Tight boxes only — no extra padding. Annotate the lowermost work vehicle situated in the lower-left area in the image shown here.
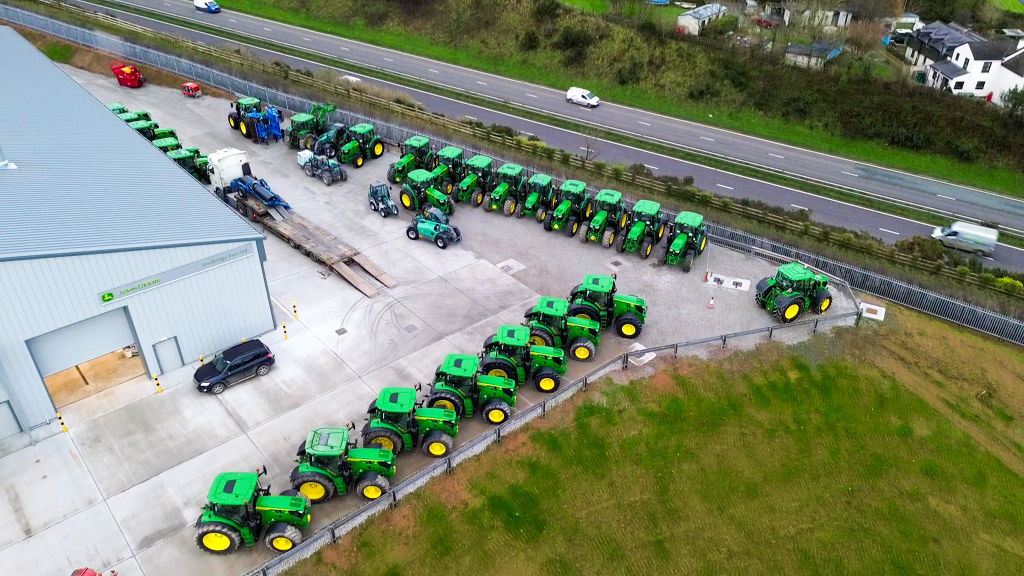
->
[70,551,112,576]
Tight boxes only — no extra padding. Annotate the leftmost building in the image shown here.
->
[0,13,277,440]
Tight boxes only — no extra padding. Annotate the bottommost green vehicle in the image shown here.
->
[189,468,316,554]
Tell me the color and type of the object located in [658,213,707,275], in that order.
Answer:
green work vehicle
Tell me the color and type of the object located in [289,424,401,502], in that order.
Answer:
green work vehicle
